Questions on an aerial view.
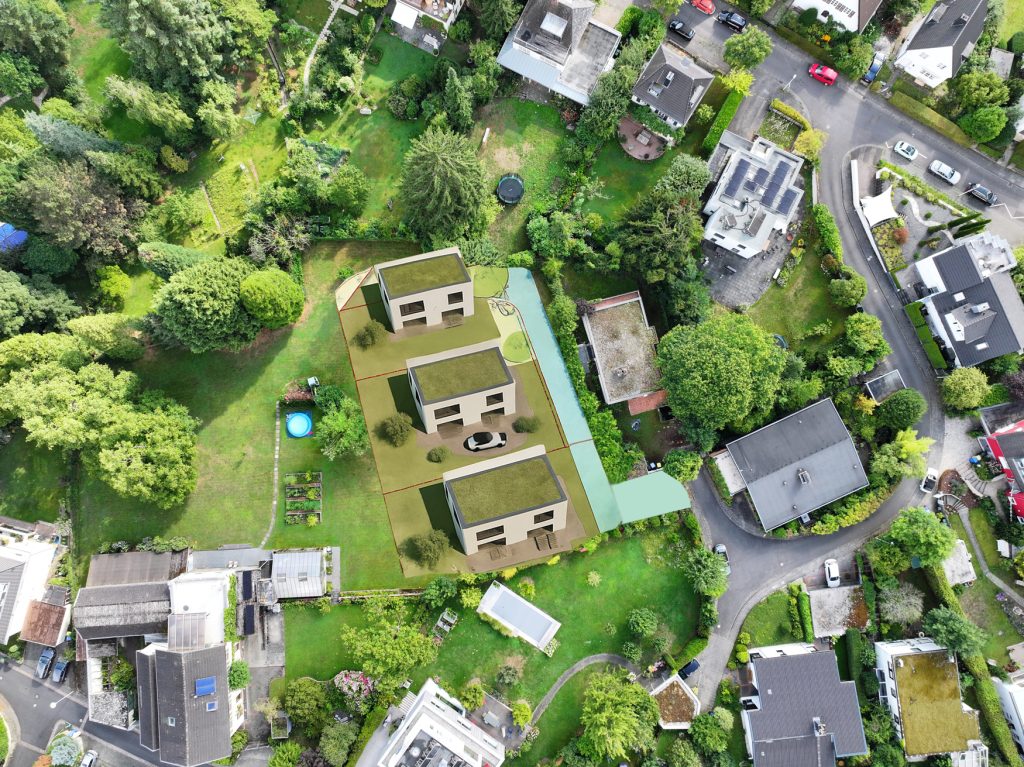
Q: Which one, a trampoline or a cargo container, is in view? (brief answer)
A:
trampoline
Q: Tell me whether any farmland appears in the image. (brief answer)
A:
No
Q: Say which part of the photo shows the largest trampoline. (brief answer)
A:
top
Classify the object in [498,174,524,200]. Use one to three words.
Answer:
trampoline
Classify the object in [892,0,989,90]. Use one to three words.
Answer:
house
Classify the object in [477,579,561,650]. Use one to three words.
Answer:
building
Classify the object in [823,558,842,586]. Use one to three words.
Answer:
car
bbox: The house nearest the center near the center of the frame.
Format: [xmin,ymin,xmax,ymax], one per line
[406,338,515,433]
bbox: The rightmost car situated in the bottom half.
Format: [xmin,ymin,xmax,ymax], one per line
[919,467,939,493]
